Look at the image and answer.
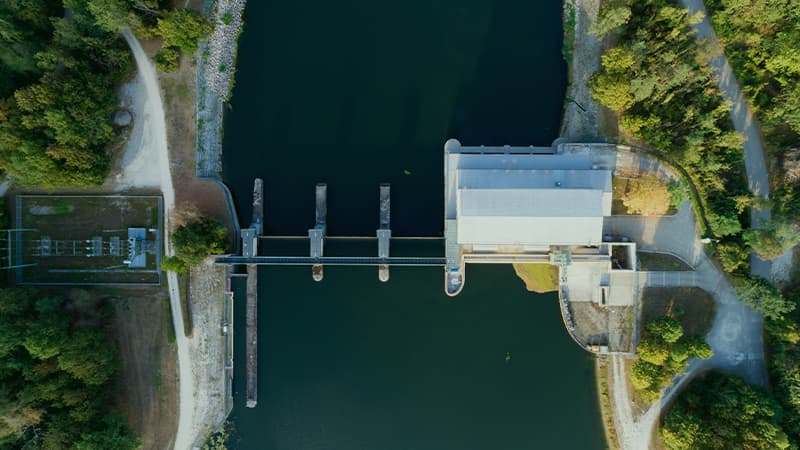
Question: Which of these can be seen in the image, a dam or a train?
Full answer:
This aerial view contains a dam.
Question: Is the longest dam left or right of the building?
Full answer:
In the image, the longest dam sits on the left side of the building.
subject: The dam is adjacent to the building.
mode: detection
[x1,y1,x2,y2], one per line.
[241,179,445,283]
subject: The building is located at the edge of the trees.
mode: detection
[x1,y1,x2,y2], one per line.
[445,140,617,295]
